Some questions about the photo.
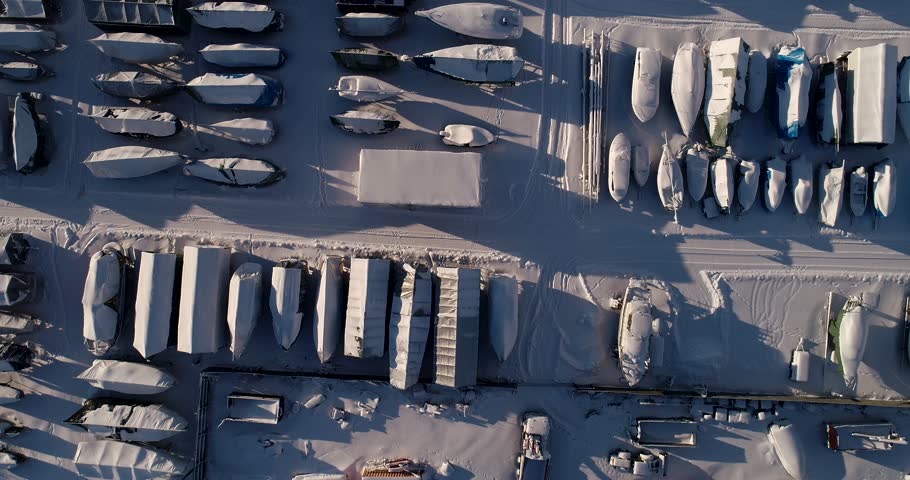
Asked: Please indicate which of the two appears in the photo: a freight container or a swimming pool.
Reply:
freight container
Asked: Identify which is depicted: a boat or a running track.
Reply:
boat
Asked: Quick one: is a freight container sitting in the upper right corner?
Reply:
No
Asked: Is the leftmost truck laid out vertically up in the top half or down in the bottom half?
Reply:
bottom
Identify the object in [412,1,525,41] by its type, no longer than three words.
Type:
boat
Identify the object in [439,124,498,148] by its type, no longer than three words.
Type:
boat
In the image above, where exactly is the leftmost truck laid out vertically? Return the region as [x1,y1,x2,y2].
[516,415,552,480]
